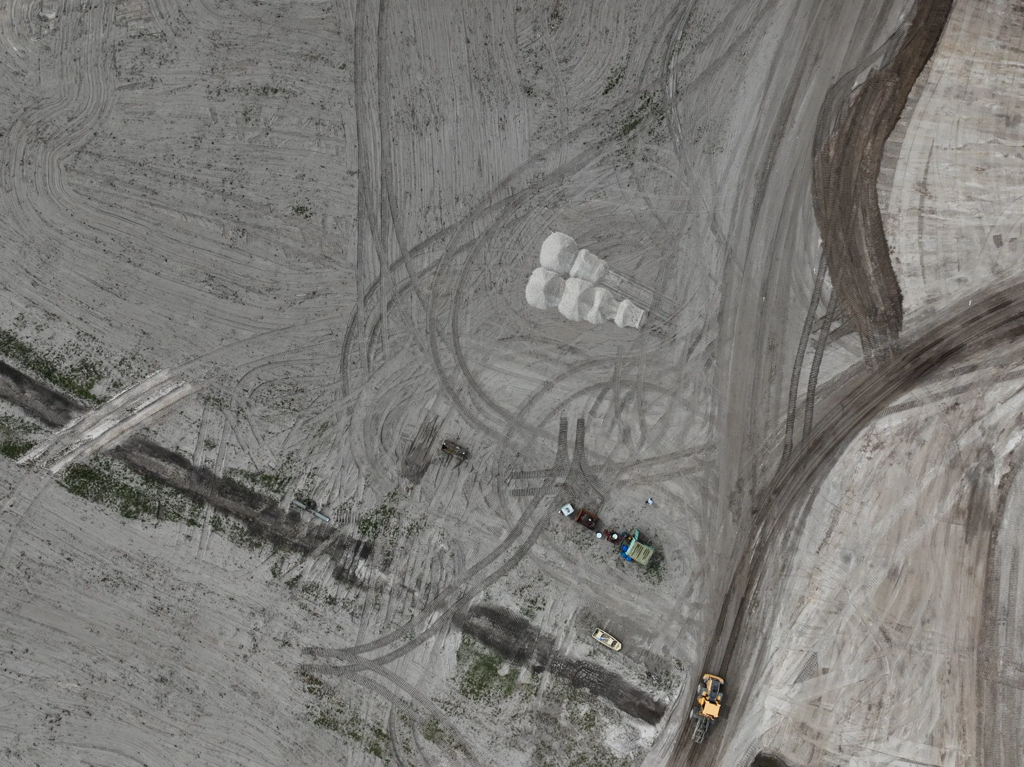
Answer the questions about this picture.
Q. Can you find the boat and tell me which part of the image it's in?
bottom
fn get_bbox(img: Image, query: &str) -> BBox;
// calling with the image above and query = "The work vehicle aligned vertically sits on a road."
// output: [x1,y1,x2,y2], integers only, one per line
[689,672,725,743]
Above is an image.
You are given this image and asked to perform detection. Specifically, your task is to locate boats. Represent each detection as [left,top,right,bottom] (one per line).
[592,628,621,651]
